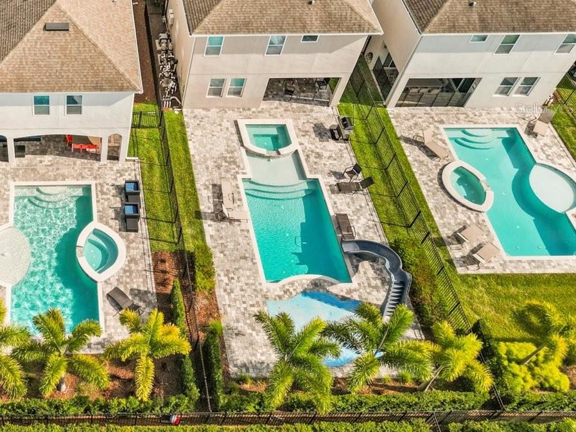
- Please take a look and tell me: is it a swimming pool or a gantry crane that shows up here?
swimming pool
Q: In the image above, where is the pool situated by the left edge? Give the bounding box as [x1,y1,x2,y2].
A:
[0,180,125,341]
